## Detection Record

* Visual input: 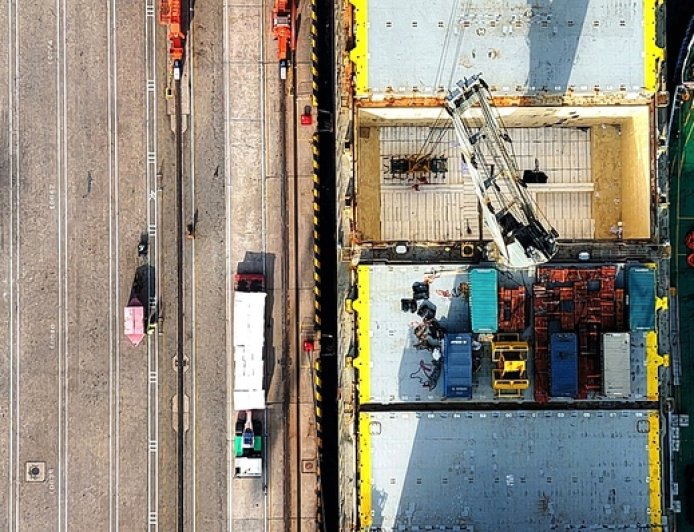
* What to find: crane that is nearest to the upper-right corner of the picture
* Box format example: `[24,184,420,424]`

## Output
[413,62,566,274]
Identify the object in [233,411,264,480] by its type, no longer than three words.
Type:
truck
